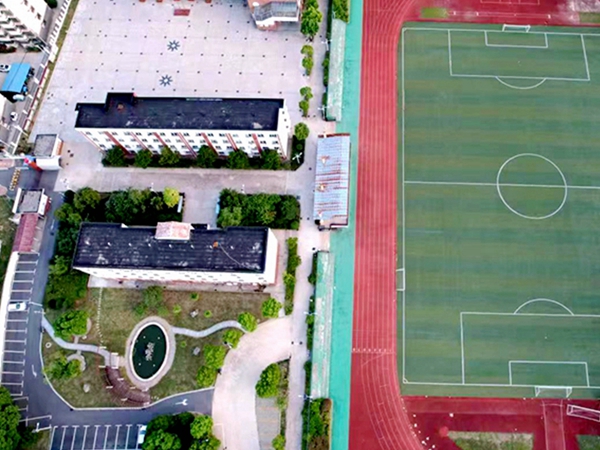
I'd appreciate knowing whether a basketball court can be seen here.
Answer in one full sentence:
No, the frame has no basketball court in it.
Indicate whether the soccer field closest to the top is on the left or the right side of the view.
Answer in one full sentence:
The soccer field closest to the top appears in the right half of the scene.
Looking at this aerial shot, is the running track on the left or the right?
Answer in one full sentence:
The running track appears in the right half of the scene.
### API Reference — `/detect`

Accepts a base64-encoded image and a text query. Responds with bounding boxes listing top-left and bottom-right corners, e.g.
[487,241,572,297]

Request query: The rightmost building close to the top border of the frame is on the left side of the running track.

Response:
[248,0,300,30]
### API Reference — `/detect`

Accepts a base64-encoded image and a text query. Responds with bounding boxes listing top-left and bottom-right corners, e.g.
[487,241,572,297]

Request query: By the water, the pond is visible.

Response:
[125,316,175,391]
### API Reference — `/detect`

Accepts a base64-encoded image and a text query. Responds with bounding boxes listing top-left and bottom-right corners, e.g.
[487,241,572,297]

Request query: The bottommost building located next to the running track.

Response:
[72,220,278,282]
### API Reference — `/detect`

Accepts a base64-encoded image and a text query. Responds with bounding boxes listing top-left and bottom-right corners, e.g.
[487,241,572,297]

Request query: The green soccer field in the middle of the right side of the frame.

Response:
[396,20,600,408]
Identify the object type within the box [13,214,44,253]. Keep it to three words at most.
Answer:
shed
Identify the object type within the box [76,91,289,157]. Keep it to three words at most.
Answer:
building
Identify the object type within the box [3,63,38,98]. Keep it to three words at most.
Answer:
shed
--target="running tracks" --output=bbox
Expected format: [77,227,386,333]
[350,0,600,450]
